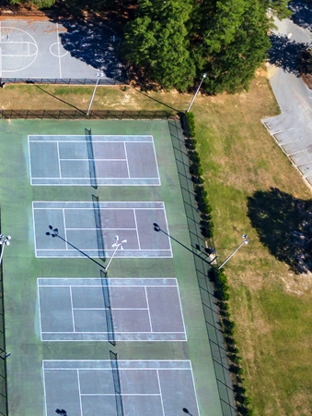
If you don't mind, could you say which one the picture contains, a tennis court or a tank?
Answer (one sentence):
The image shows a tennis court.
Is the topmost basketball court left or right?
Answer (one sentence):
You can find the topmost basketball court on the left side of the picture.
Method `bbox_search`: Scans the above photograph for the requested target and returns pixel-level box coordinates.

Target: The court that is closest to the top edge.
[0,13,131,82]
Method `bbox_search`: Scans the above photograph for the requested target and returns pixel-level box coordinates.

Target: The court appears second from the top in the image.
[28,135,161,185]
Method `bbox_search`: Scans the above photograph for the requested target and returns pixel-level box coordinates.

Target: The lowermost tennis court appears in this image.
[43,359,200,416]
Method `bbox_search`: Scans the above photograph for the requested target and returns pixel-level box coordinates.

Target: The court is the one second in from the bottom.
[37,278,187,340]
